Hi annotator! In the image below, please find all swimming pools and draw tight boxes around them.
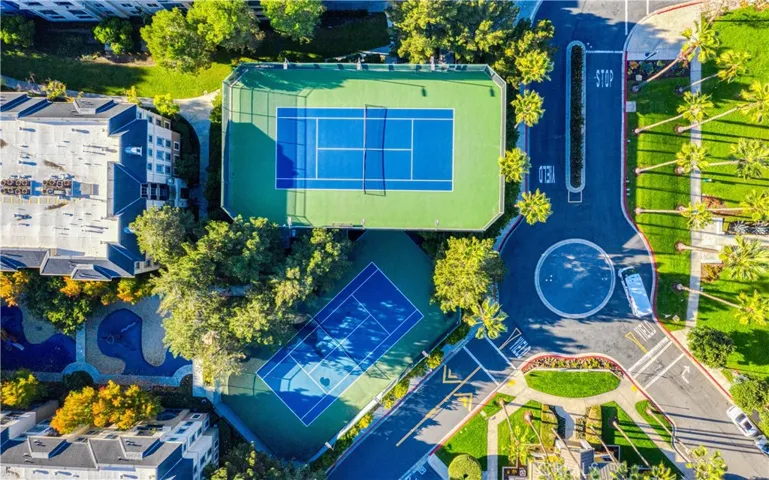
[96,308,194,377]
[0,302,76,372]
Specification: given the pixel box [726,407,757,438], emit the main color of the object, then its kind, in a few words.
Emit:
white car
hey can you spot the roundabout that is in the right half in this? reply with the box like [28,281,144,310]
[535,238,616,318]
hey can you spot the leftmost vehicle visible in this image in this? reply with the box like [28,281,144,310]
[618,266,655,318]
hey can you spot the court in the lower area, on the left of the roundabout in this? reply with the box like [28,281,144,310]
[219,231,460,461]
